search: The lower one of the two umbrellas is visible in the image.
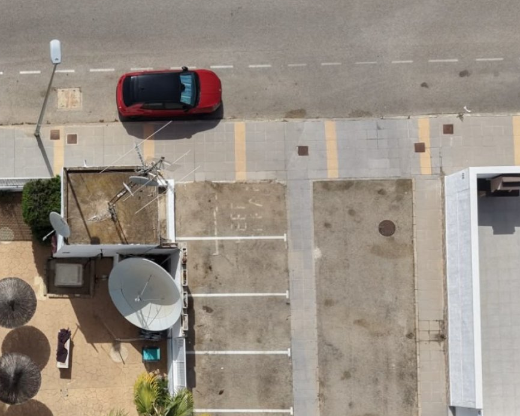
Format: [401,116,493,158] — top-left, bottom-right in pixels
[0,351,40,403]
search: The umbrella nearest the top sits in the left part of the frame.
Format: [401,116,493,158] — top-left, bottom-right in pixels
[0,275,36,330]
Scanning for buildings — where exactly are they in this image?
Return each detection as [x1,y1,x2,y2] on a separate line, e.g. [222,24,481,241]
[444,164,520,416]
[51,168,193,336]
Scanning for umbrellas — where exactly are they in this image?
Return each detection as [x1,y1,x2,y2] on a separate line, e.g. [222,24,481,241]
[0,275,36,330]
[0,351,40,403]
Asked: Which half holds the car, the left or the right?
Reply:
left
